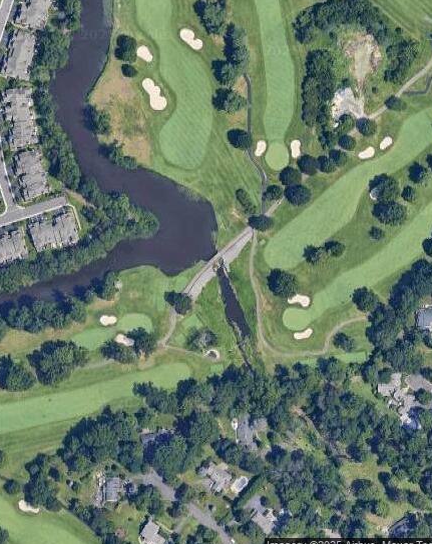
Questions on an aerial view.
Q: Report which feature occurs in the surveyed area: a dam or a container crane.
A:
dam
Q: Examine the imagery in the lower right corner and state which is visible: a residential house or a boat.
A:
residential house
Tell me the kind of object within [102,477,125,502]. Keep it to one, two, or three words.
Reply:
house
